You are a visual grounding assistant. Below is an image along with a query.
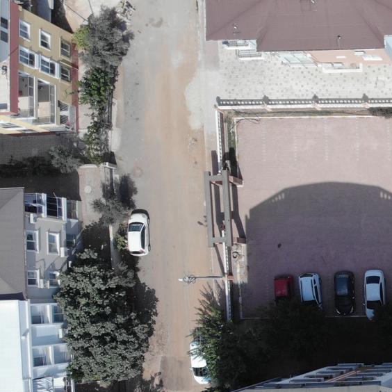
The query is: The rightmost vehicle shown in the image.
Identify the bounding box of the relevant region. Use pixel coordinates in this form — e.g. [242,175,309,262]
[359,267,383,319]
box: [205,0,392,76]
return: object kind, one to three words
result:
house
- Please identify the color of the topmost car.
white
